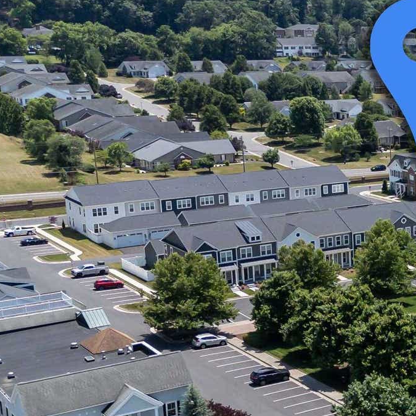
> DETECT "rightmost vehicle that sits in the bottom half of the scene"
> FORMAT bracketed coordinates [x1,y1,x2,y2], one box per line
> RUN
[248,365,291,386]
